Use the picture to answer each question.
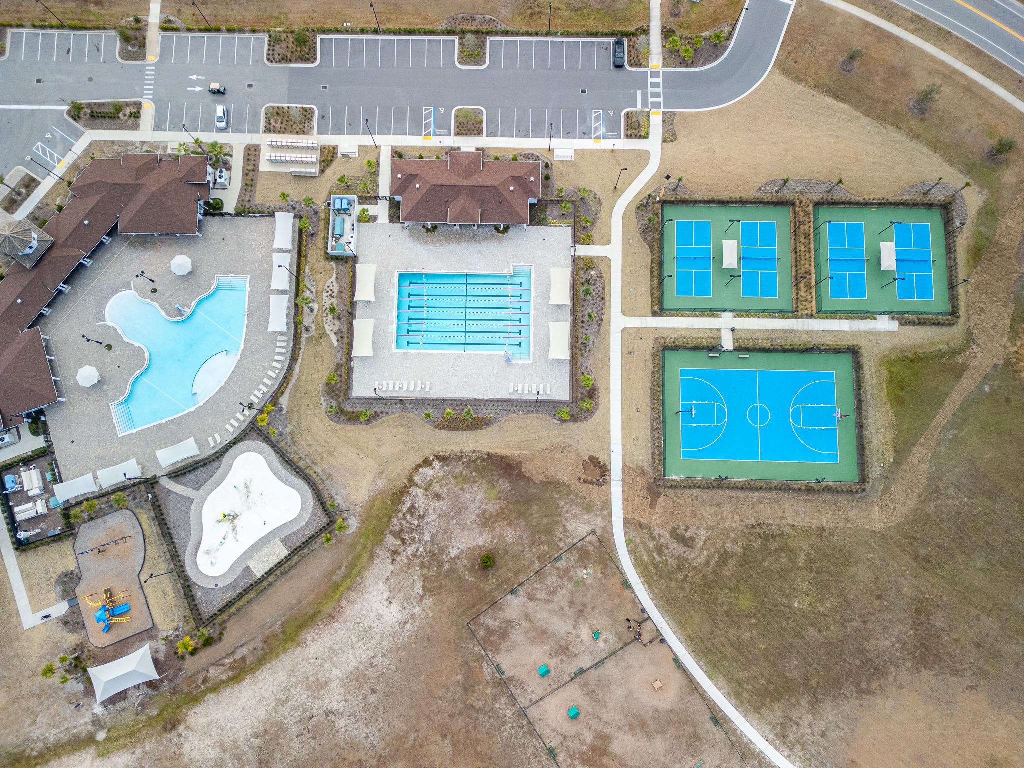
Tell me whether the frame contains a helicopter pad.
No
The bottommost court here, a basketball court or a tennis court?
basketball court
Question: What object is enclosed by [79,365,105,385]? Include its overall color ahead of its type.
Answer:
white umbrella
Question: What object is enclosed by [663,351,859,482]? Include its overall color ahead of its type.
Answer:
blue basketball court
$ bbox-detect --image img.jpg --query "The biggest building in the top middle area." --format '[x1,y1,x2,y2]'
[390,151,542,230]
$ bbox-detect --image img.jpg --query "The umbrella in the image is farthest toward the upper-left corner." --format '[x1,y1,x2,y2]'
[172,256,195,277]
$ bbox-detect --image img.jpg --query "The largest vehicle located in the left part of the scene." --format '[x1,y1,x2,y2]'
[214,104,227,129]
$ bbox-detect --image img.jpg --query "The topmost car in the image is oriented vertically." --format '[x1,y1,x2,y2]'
[614,38,627,66]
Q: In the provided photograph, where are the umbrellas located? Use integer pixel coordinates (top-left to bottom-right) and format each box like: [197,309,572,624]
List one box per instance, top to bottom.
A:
[172,256,195,277]
[79,365,105,385]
